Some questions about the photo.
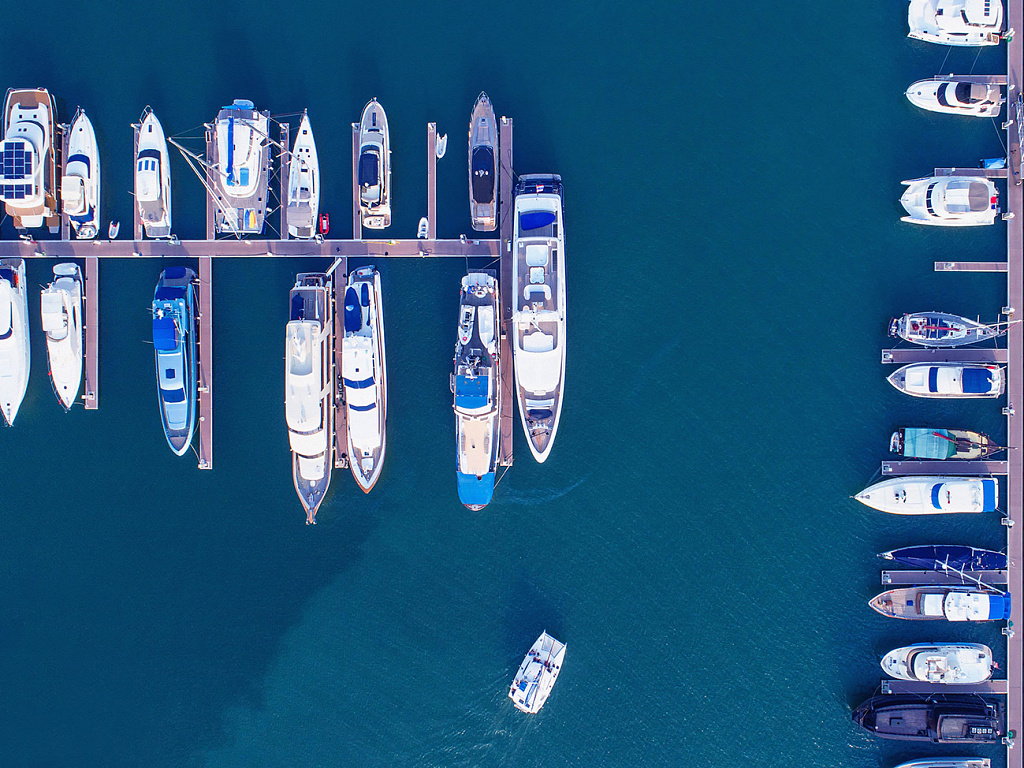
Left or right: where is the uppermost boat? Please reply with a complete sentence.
The uppermost boat sits on the right side.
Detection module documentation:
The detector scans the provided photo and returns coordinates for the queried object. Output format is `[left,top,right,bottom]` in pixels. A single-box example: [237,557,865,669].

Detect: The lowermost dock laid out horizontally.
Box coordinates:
[880,680,1007,694]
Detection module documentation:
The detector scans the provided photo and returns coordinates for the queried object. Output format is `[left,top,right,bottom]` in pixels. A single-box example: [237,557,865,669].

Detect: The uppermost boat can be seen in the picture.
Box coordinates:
[908,0,1000,49]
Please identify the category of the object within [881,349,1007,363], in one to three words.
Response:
pier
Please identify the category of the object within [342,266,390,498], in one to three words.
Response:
boat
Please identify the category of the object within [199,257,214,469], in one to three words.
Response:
pier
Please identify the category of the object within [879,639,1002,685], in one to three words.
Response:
boat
